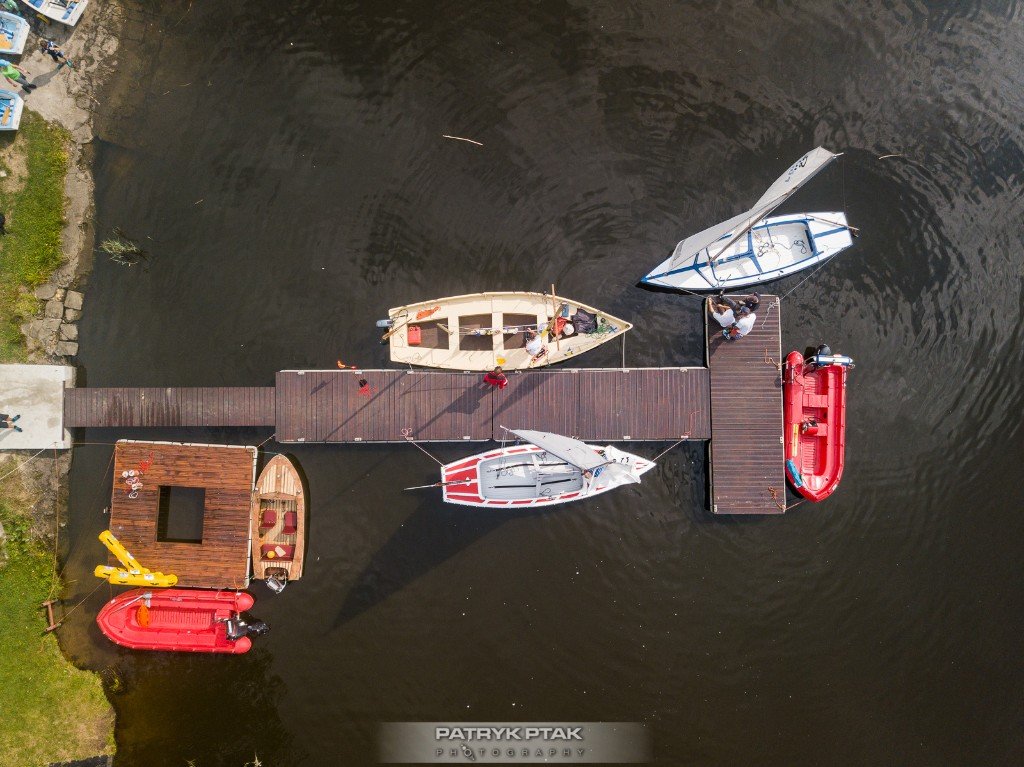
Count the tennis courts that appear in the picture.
0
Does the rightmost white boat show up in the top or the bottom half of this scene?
top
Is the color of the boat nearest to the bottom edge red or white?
red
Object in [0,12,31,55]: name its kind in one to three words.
boat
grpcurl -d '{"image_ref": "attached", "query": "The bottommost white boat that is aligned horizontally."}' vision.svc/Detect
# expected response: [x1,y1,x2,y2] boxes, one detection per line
[404,427,657,508]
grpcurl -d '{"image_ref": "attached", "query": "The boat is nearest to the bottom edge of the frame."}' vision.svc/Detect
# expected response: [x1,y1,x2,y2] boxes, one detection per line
[97,586,273,651]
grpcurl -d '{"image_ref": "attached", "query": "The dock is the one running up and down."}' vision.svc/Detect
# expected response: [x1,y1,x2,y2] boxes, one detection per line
[704,293,787,516]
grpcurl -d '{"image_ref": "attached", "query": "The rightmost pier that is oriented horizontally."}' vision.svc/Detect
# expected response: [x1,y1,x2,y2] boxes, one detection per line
[494,365,709,444]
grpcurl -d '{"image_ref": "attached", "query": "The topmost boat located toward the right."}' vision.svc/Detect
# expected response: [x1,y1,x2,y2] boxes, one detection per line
[639,146,859,293]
